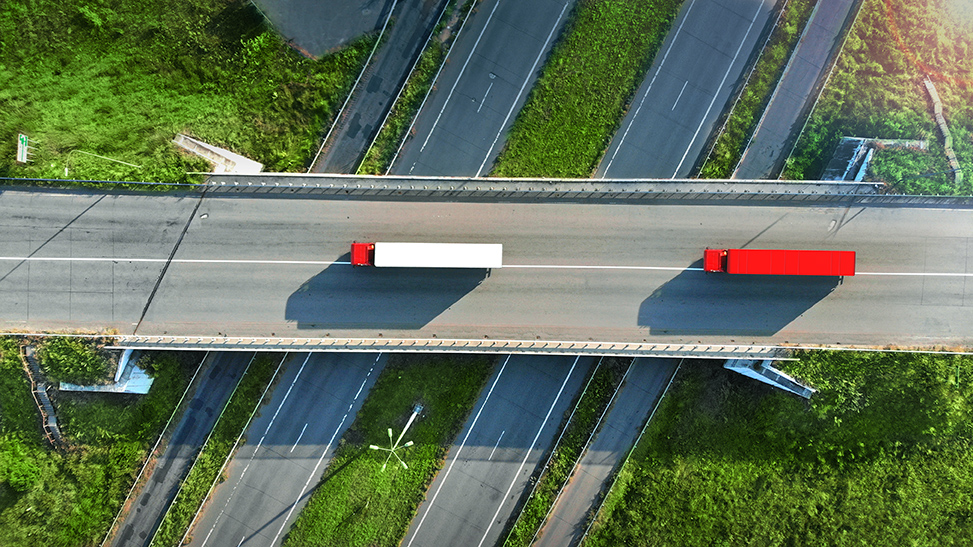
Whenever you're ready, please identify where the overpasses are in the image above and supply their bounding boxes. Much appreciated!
[103,174,882,358]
